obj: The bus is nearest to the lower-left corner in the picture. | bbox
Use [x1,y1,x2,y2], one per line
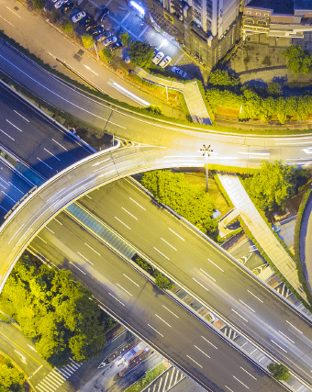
[117,337,148,362]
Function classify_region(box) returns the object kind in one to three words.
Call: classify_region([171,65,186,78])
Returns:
vehicle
